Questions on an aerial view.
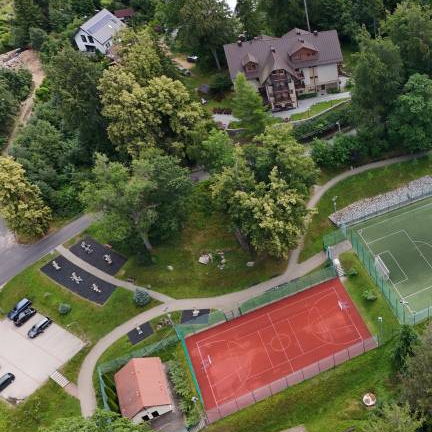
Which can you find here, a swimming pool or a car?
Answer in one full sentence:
I can see a car in this picture.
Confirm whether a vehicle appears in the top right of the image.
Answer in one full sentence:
No, the scene shows no vehicle in the top right of the image.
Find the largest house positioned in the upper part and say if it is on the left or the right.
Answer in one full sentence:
It is on the right.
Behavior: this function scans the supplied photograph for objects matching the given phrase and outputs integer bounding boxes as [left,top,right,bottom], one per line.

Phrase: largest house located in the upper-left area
[70,9,129,60]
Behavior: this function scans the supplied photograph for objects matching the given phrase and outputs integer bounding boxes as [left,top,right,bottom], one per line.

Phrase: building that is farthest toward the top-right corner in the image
[224,18,343,109]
